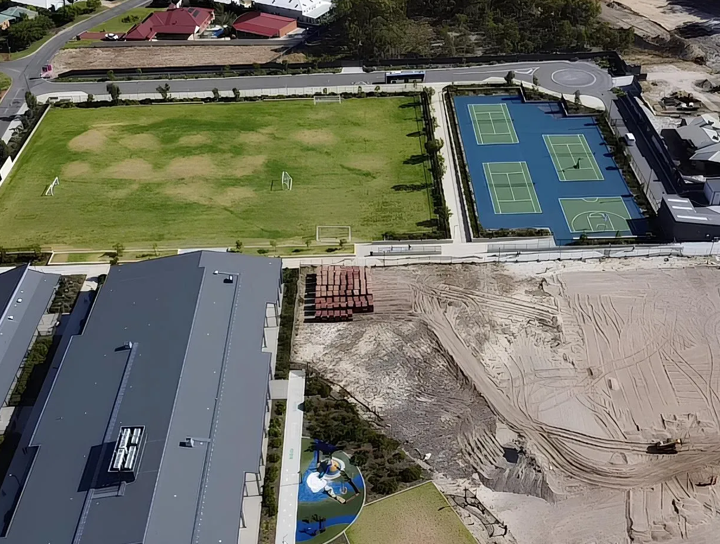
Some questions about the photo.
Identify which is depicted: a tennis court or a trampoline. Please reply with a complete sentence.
Of the two, only a tennis court appears.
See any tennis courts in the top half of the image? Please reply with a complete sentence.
Yes, a tennis court appears in the top half of the image.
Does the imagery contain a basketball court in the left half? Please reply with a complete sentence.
No, no basketball court appears in the left half.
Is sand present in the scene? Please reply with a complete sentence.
Yes, the picture does contain sand.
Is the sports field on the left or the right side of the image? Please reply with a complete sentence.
The sports field is on the left side of the image.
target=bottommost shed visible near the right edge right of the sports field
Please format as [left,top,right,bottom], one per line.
[660,198,720,239]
